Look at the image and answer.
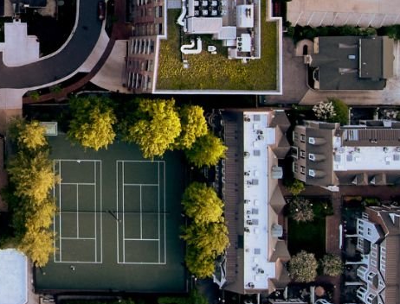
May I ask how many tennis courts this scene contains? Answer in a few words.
two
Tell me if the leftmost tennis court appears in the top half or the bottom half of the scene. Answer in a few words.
bottom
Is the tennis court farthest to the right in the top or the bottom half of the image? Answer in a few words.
bottom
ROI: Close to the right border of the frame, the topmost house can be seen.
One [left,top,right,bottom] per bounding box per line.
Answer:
[294,36,394,90]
